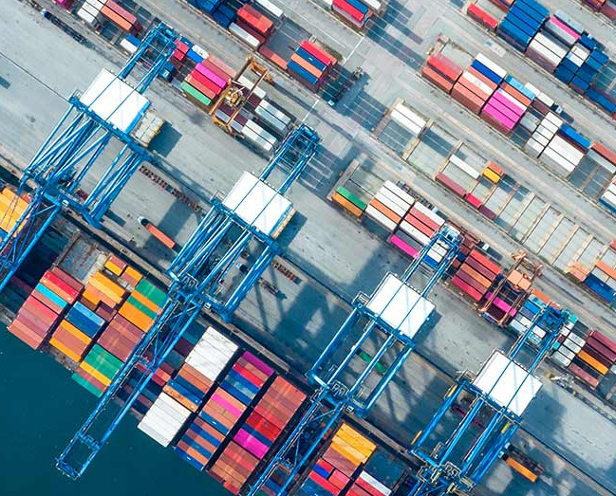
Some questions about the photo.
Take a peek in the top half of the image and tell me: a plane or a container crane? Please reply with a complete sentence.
The feature located in the top half of the image is a container crane.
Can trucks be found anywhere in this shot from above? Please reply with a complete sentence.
Yes, a truck appears in the view.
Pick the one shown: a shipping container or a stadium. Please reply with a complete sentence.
Looking from above, you can make out a shipping container.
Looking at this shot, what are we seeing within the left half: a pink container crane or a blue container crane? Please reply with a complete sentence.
Visible within the left half is a blue container crane.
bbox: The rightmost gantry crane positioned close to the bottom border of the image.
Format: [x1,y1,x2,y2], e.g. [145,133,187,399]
[403,298,570,496]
